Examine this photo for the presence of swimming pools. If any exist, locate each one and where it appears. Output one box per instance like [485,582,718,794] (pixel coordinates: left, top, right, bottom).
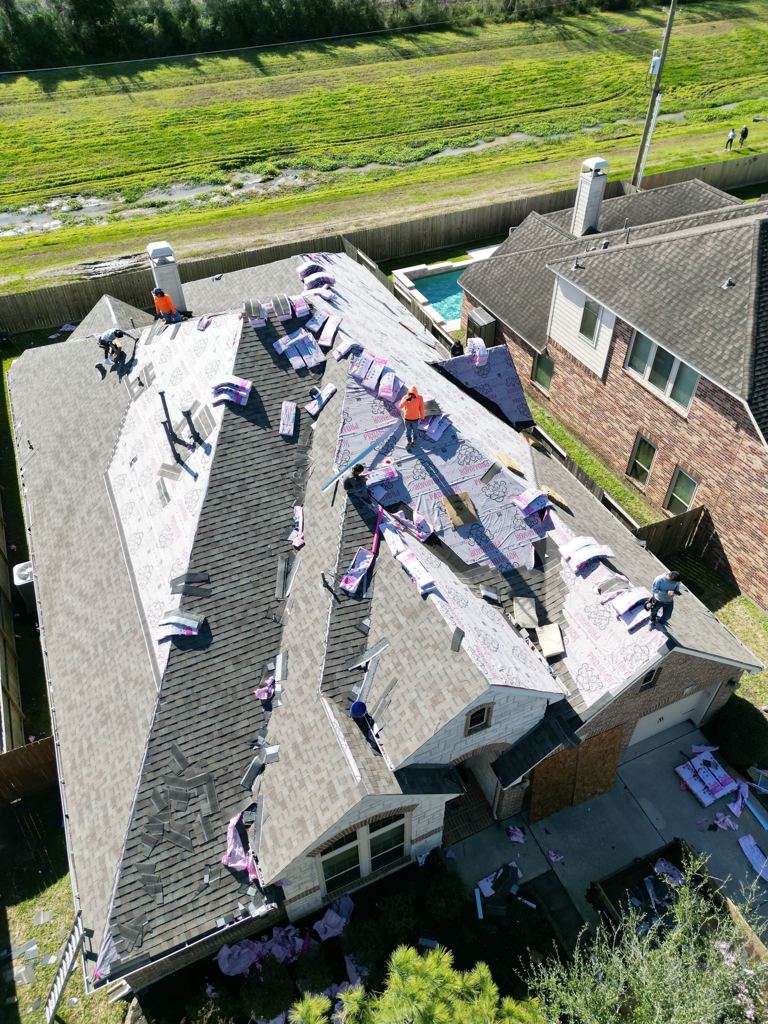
[392,242,506,335]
